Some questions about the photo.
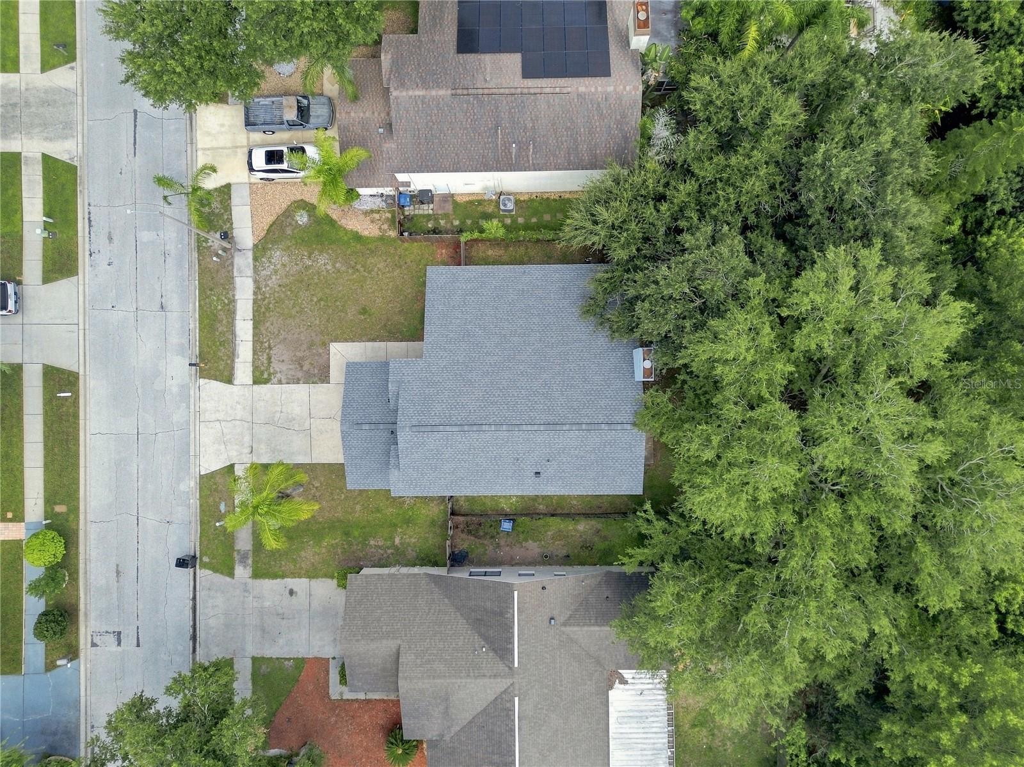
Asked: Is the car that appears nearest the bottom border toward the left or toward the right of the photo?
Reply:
left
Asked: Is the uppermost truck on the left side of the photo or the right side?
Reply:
left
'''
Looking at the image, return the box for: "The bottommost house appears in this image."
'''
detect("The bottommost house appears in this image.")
[341,564,666,767]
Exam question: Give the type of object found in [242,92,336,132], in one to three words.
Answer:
truck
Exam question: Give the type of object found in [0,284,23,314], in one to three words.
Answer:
car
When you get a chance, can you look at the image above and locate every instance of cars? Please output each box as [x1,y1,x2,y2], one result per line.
[246,144,323,182]
[0,284,23,314]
